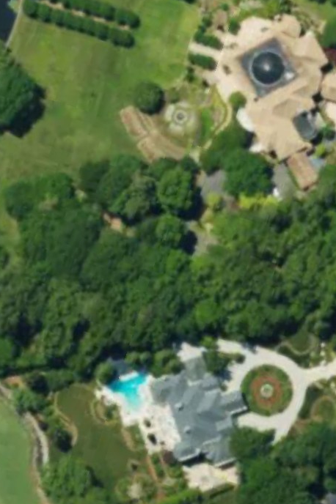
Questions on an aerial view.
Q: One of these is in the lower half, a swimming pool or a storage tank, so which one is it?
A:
swimming pool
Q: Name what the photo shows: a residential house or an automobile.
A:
residential house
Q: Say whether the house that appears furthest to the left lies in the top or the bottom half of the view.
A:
bottom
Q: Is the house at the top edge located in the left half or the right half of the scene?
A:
right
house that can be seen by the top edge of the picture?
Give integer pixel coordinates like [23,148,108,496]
[234,15,327,163]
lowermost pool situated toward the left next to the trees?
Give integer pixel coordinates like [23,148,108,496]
[108,371,149,414]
